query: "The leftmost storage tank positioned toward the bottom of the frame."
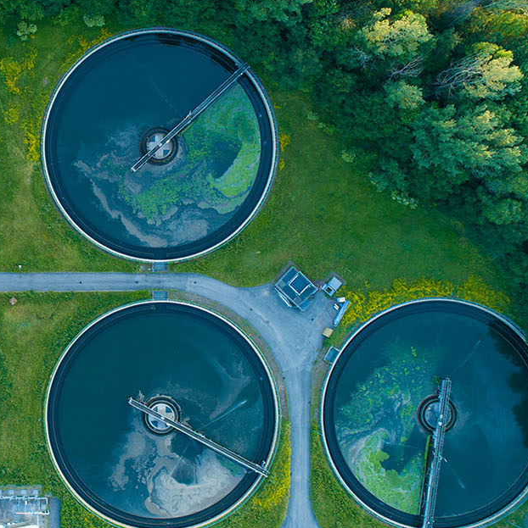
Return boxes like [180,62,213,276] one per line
[45,299,283,528]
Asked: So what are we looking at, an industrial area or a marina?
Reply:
industrial area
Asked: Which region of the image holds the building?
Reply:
center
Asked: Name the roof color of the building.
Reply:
blue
